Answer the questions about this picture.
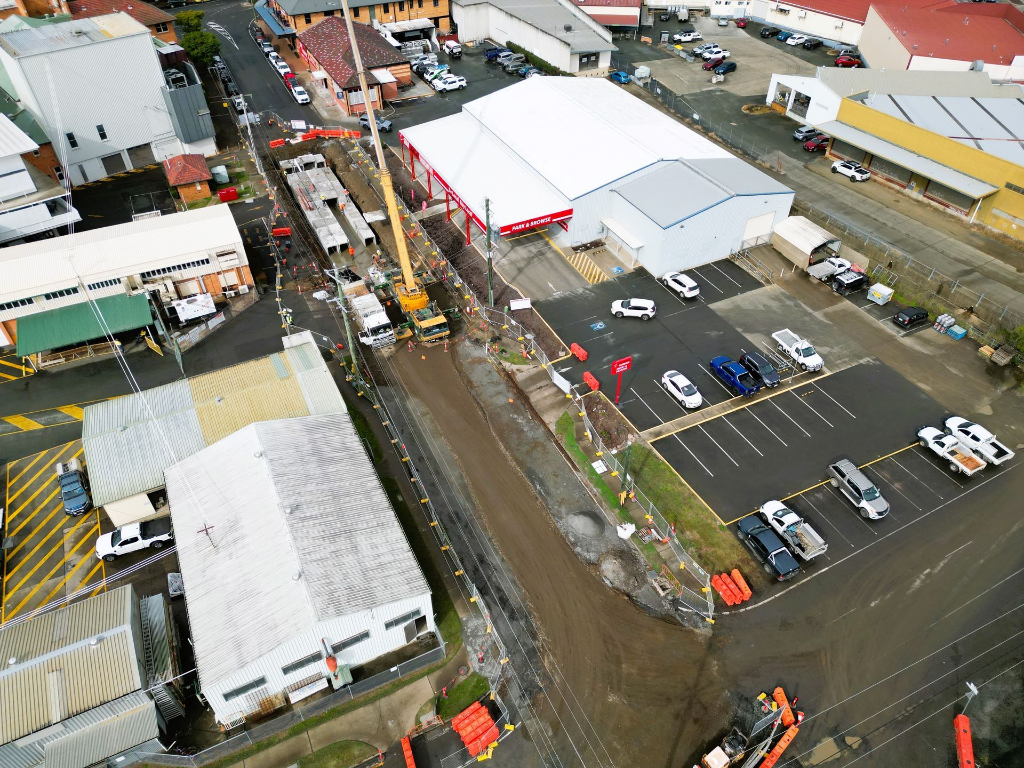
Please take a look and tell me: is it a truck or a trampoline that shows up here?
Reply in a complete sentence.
Of the two, only a truck appears.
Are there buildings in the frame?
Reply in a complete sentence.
Yes, the photo shows a building.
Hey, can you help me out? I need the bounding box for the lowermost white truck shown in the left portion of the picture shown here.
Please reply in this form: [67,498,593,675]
[96,519,172,561]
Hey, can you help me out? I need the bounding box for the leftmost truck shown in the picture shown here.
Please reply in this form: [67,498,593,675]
[50,459,89,514]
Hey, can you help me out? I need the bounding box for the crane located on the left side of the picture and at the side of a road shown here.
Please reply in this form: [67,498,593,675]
[333,0,459,347]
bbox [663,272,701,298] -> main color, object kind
white car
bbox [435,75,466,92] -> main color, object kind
white vehicle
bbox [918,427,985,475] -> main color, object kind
white truck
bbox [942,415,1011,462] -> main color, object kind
white truck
